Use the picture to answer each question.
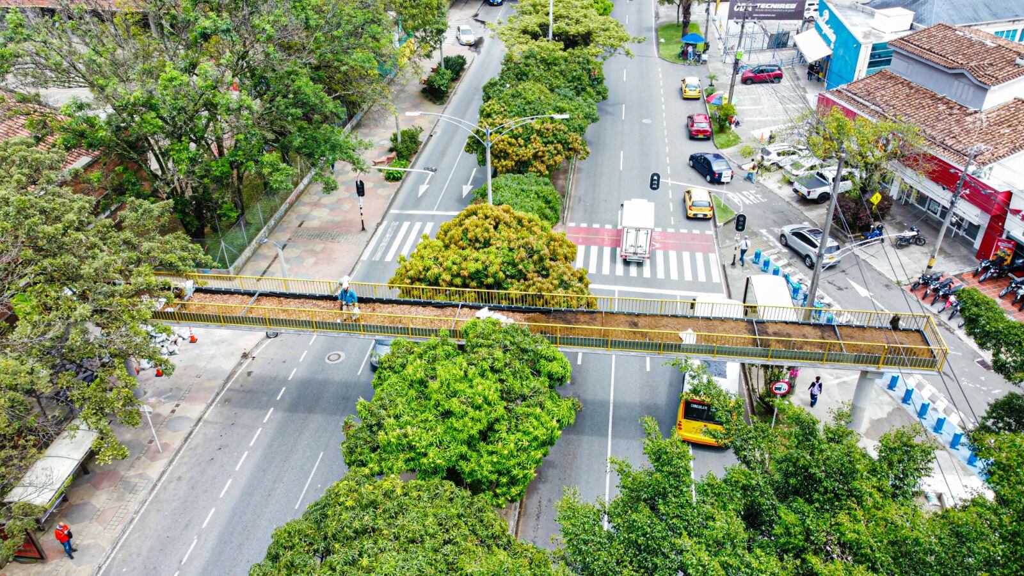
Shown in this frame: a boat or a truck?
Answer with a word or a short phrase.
truck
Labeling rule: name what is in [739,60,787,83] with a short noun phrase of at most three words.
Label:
car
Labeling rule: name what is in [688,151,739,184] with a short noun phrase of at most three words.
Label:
car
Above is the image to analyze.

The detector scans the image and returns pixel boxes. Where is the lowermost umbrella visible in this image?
[710,84,741,106]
